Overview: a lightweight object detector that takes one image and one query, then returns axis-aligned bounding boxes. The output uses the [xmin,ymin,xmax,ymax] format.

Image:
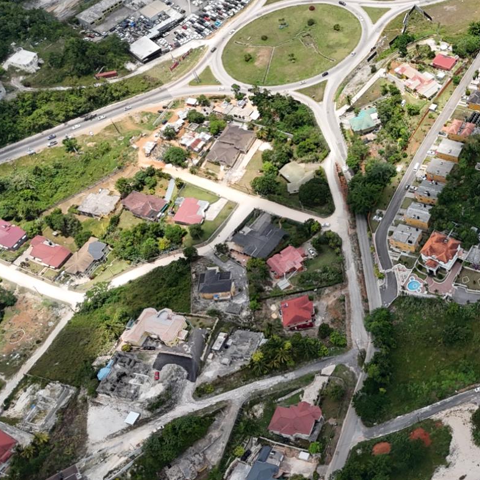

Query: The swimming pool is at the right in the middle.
[406,276,422,292]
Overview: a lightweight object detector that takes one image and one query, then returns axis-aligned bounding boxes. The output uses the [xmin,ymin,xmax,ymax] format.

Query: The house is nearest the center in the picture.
[231,213,287,258]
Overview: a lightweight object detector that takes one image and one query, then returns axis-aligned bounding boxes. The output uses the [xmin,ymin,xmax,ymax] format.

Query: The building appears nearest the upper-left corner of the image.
[4,51,46,74]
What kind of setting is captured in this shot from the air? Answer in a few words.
residential area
